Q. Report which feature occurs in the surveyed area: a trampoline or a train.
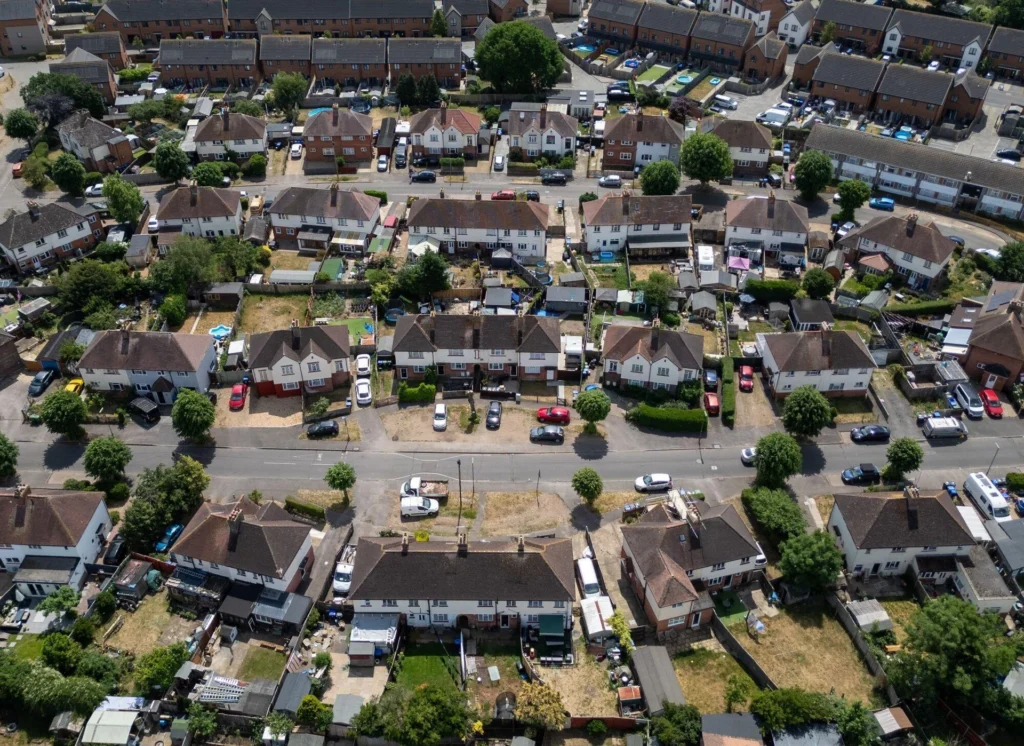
trampoline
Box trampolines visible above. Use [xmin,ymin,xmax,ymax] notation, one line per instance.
[531,261,555,286]
[380,297,406,323]
[350,93,372,112]
[490,678,519,717]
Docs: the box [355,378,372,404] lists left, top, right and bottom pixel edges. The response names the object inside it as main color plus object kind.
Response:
white car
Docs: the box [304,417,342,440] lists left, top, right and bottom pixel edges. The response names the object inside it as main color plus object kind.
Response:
black car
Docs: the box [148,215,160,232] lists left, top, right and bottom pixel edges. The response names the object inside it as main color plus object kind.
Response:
white vehicle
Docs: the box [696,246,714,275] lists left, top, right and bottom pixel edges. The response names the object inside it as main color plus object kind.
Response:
white camper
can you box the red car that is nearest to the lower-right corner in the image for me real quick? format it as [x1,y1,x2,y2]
[981,391,1003,416]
